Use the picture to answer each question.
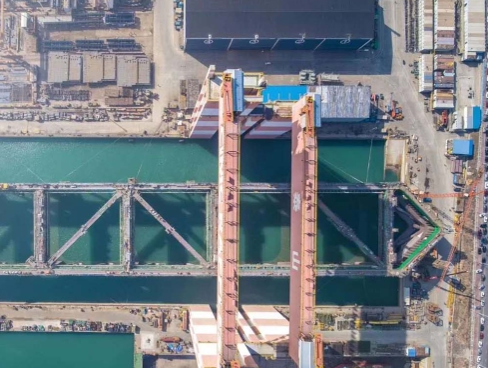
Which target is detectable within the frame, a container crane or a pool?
container crane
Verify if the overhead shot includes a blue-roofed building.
Yes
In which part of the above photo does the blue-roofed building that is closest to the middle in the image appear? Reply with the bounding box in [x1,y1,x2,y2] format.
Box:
[259,85,310,100]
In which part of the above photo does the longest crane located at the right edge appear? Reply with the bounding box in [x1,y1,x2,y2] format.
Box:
[416,167,486,281]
